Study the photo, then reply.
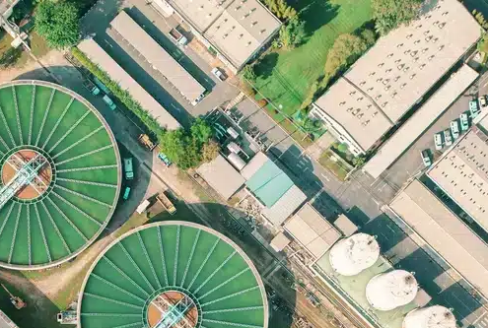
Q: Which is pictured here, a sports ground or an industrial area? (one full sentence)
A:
This image shows an industrial area.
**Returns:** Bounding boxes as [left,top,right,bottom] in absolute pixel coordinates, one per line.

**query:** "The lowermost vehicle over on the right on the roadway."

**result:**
[419,147,431,168]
